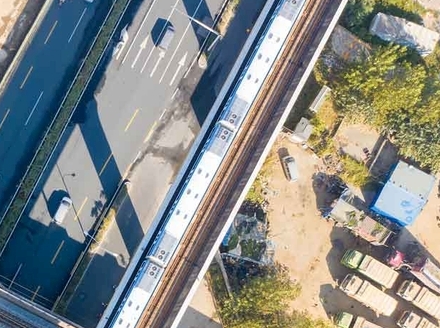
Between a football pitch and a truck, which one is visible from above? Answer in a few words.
truck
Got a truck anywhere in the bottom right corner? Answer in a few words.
Yes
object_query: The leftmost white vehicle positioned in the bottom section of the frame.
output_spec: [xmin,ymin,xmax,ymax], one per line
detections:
[50,192,74,226]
